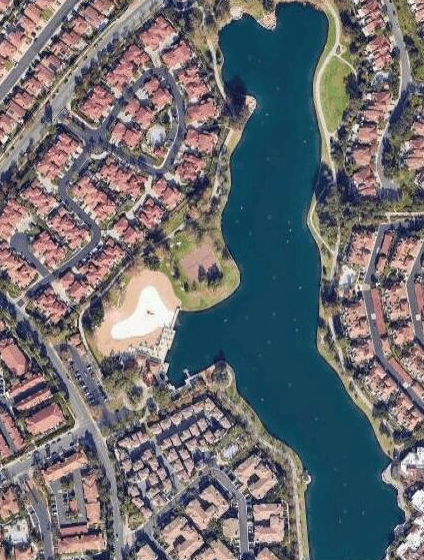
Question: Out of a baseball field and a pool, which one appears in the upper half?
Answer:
pool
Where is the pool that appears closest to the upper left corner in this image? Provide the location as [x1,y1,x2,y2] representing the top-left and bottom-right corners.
[147,124,166,145]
